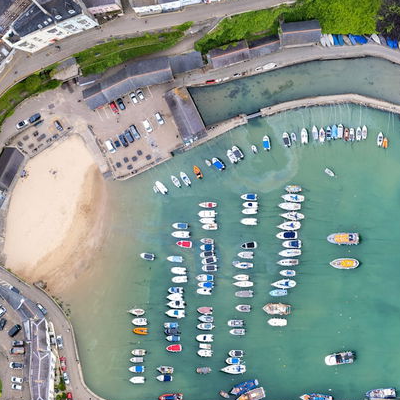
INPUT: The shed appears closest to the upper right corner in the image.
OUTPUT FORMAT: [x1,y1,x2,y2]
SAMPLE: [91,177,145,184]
[279,19,322,51]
